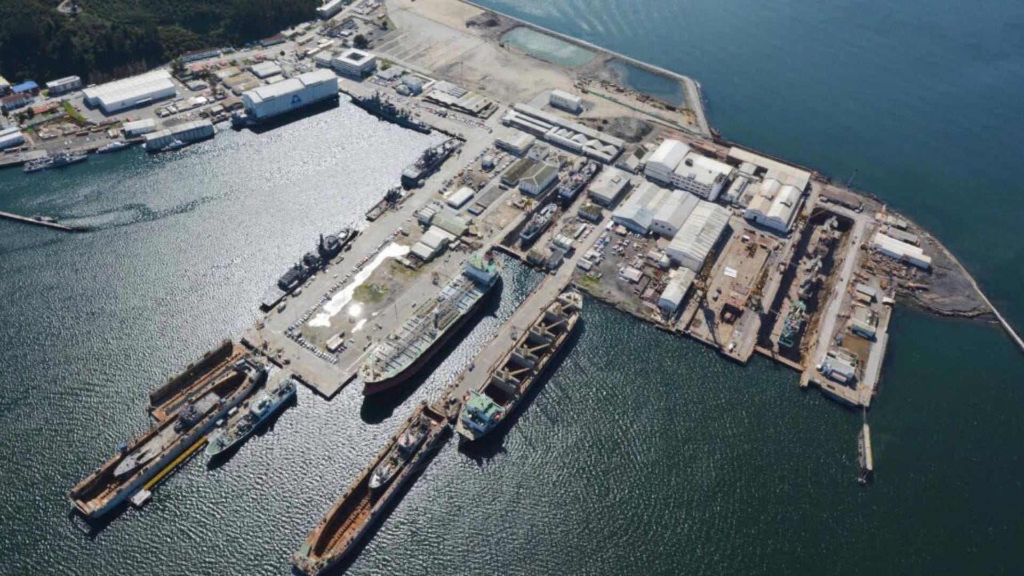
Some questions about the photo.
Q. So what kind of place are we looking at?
port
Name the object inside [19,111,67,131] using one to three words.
shed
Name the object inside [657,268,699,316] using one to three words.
building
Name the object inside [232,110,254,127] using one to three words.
ship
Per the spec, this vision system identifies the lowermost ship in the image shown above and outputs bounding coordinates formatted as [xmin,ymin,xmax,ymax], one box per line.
[130,489,155,510]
